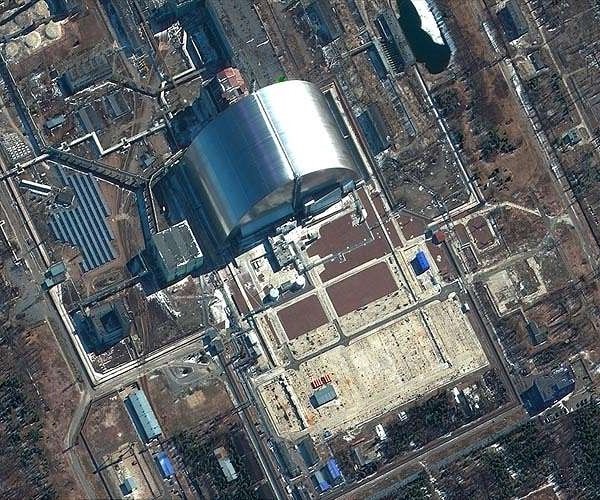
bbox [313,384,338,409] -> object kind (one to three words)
building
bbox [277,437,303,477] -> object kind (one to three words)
shed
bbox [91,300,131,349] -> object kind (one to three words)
building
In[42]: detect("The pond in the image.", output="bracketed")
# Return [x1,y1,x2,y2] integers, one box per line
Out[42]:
[397,0,452,74]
